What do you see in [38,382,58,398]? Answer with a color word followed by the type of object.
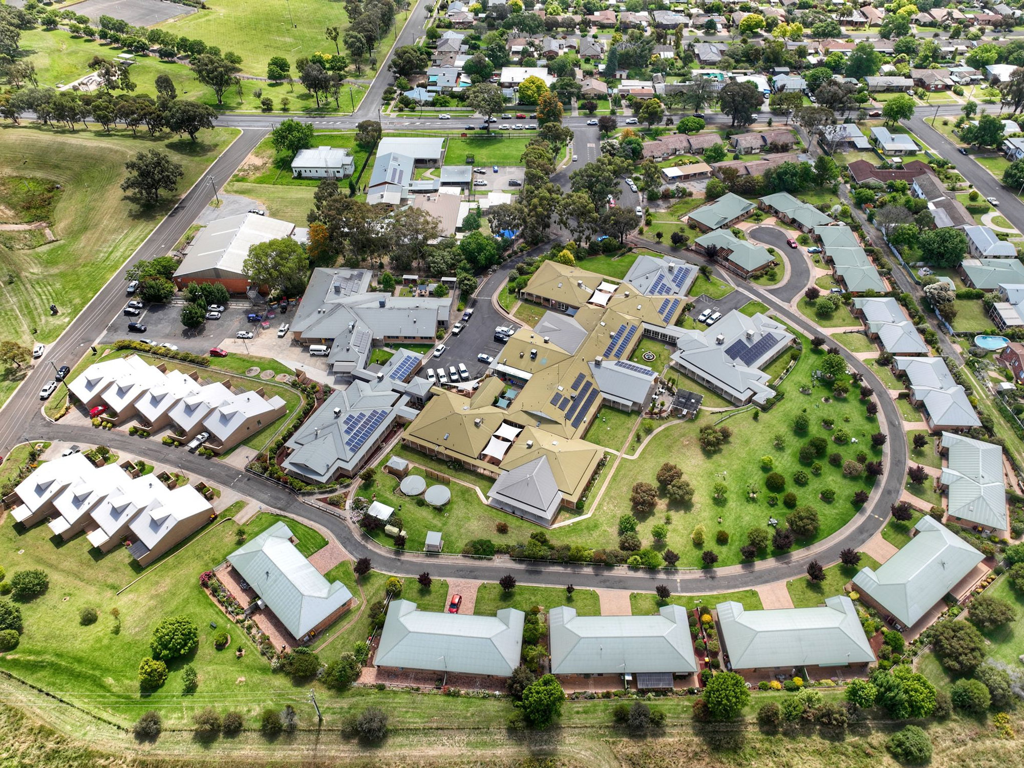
white vehicle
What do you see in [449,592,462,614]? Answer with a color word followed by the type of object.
red vehicle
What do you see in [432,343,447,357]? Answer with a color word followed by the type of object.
white car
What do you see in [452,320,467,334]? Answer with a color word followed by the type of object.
white vehicle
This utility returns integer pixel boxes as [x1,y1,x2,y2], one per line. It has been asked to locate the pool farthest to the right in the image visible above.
[971,336,1008,353]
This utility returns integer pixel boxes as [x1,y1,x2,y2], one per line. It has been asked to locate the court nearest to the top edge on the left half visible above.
[58,0,191,26]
